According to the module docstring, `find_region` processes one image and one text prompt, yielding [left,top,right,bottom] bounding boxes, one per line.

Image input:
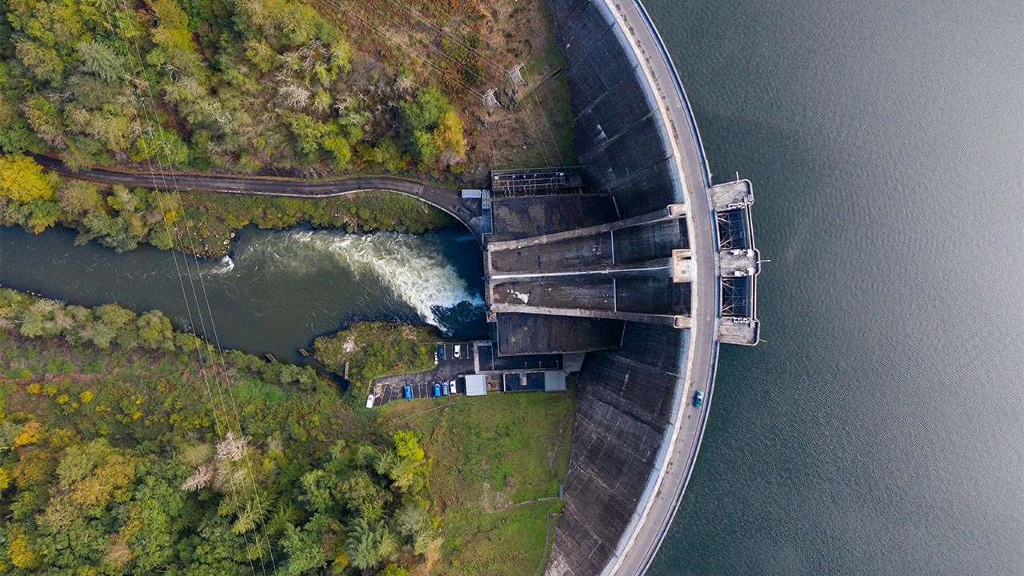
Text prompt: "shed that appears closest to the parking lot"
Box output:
[466,374,487,396]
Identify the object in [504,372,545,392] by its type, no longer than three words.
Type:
building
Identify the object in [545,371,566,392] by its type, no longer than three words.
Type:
shed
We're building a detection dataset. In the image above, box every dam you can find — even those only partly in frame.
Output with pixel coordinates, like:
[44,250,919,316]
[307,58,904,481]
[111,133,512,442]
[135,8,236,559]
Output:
[487,0,761,576]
